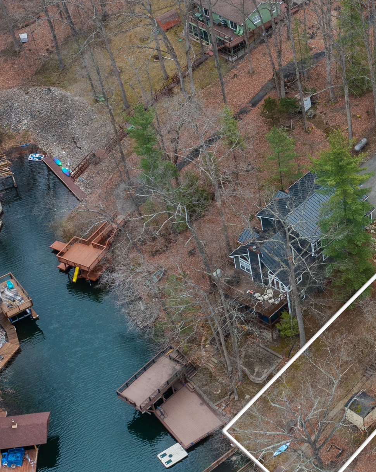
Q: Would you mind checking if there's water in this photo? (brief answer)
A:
Yes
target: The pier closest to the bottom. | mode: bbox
[116,344,227,451]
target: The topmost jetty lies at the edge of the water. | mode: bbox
[43,156,86,203]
